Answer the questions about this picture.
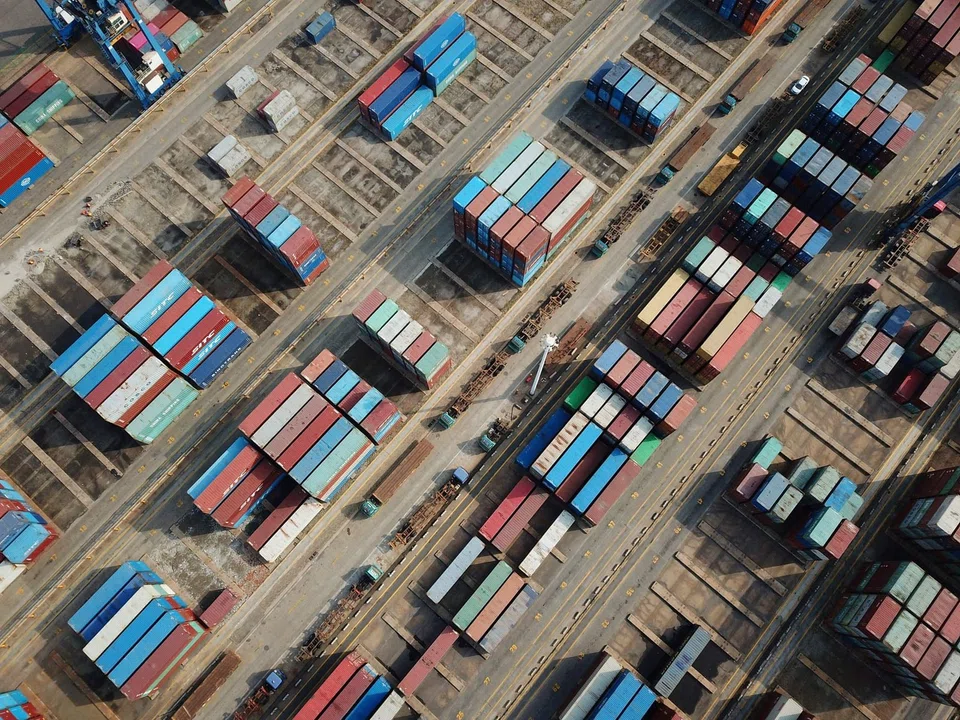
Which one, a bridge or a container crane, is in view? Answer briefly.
container crane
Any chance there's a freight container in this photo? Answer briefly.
Yes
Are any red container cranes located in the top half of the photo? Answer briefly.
No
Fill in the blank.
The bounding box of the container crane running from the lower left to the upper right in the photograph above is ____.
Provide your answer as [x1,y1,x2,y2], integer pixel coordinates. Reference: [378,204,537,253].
[884,156,960,236]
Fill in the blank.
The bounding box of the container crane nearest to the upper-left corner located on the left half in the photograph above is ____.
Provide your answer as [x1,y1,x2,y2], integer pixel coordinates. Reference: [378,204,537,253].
[32,0,185,110]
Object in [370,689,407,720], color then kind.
white shipping container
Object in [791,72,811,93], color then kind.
white car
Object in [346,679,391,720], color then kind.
blue shipping container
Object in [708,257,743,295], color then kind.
white shipping container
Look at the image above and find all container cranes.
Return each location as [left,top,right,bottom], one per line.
[884,156,960,236]
[32,0,185,110]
